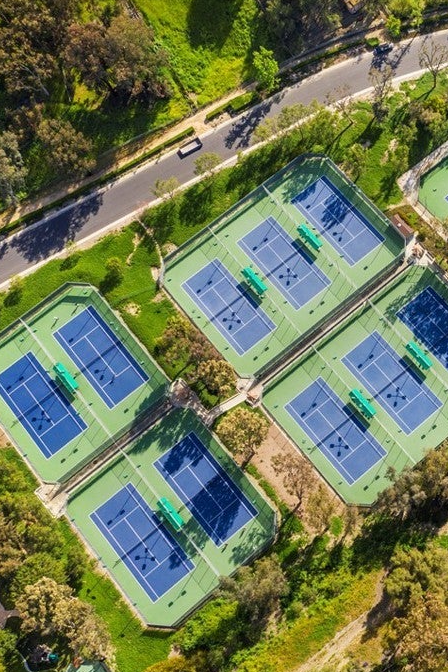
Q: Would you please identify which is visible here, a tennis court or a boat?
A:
tennis court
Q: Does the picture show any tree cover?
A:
Yes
